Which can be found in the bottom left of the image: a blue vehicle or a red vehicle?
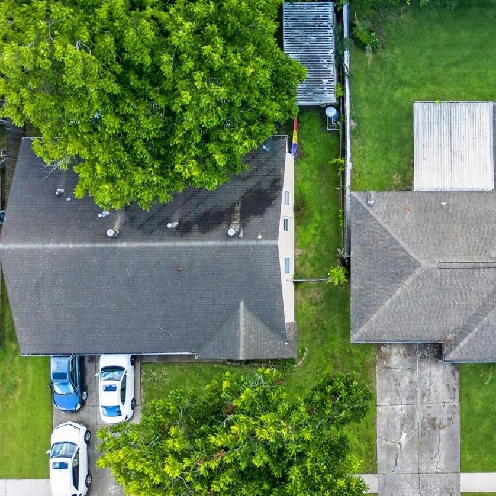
blue vehicle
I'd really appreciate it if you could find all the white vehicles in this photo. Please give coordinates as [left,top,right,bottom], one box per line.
[93,357,136,424]
[45,421,89,496]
